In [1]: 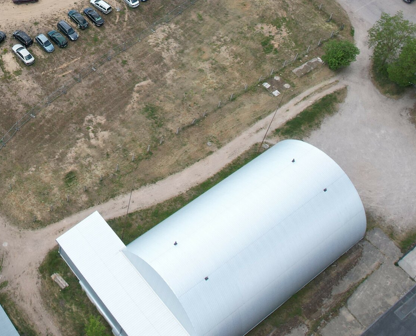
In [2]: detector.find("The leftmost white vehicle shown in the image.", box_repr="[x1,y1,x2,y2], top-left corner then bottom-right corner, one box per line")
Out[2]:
[12,45,36,68]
